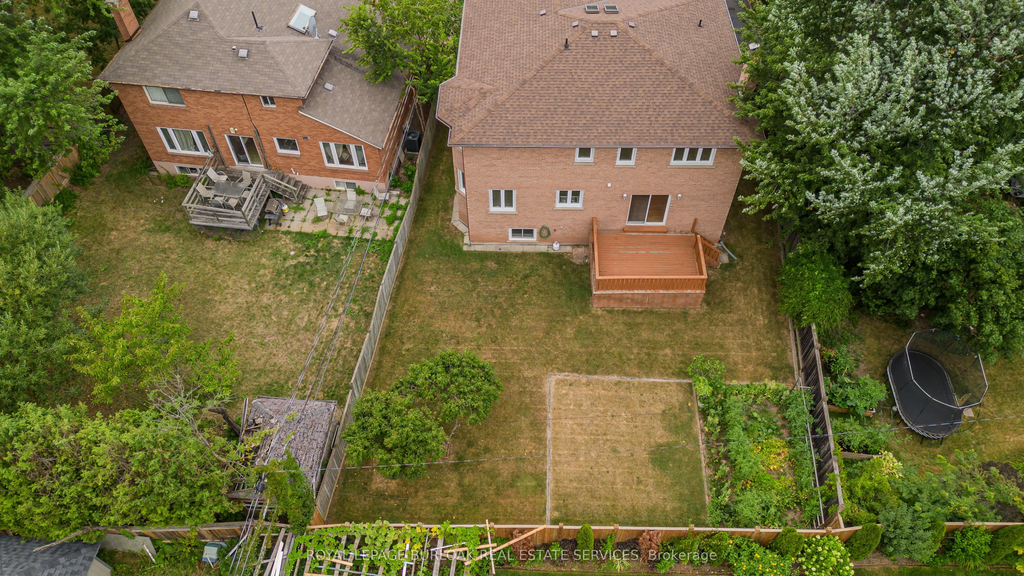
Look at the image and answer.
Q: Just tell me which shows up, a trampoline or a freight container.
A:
trampoline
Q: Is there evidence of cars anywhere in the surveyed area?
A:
No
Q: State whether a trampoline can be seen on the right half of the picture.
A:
Yes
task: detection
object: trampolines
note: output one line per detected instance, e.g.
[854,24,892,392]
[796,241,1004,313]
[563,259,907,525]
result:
[876,330,991,447]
